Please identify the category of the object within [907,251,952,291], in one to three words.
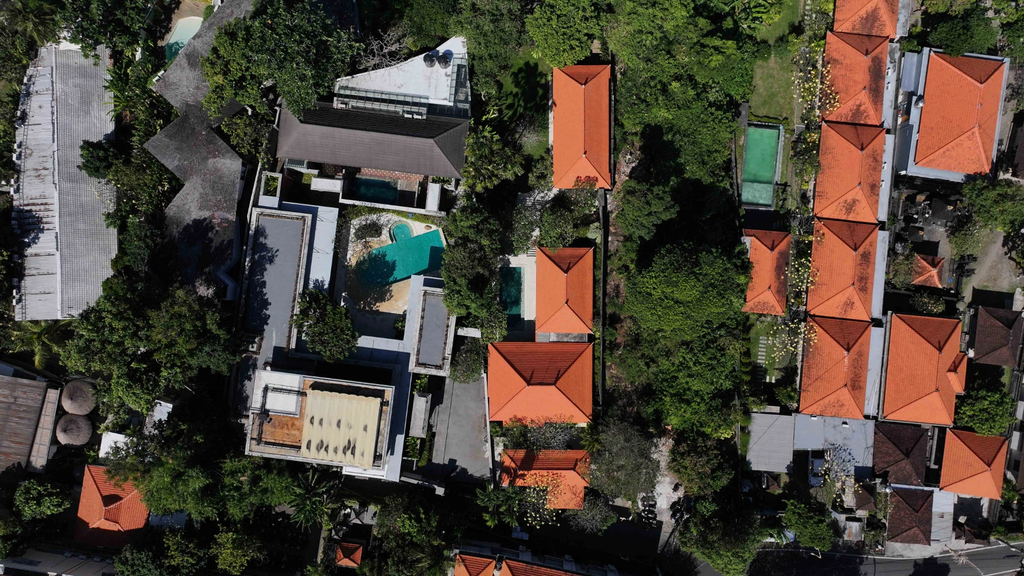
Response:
building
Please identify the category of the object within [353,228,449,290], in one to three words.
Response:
swimming pool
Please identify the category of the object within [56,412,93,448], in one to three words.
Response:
umbrella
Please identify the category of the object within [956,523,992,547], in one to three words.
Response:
house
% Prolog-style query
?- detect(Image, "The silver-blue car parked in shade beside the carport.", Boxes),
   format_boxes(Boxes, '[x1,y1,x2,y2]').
[809,458,825,487]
